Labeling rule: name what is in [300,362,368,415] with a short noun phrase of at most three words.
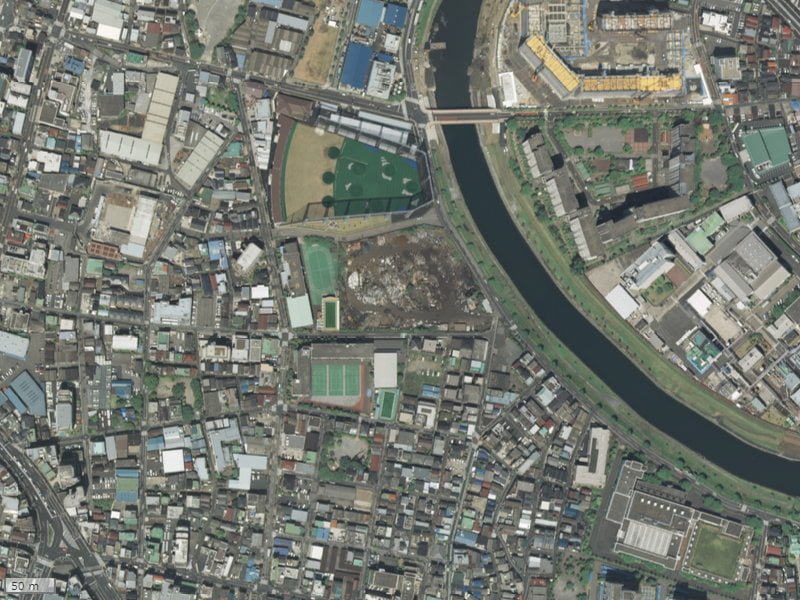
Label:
sports court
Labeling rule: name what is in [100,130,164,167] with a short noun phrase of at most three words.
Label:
building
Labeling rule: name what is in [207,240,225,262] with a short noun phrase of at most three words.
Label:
building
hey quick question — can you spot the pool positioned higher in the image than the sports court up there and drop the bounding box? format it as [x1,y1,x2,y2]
[316,302,339,331]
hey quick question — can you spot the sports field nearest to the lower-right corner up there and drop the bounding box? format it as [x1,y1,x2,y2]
[681,511,753,586]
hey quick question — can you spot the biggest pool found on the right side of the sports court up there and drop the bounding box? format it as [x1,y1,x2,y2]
[376,390,399,422]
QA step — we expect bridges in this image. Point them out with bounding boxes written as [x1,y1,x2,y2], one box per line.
[418,98,503,146]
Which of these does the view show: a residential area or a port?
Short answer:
residential area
